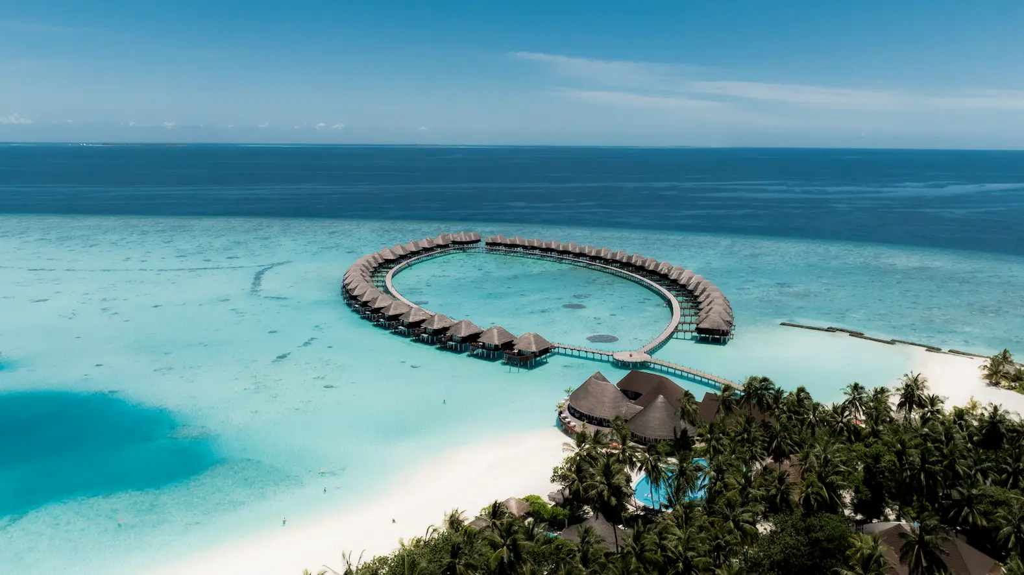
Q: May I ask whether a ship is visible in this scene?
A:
No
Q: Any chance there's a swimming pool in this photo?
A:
Yes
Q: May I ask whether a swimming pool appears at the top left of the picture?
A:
No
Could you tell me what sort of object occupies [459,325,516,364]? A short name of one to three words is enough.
house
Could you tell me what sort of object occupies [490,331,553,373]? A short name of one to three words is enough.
house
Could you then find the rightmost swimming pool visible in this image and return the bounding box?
[631,456,747,510]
